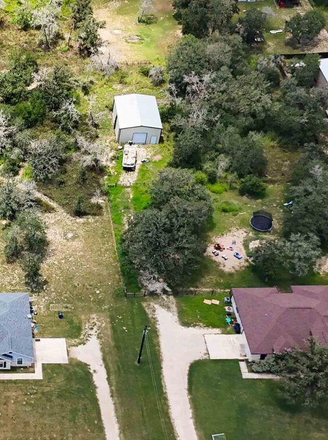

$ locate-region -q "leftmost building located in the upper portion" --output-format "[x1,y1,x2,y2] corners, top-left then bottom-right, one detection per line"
[113,92,162,144]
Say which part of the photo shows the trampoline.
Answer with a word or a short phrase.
right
